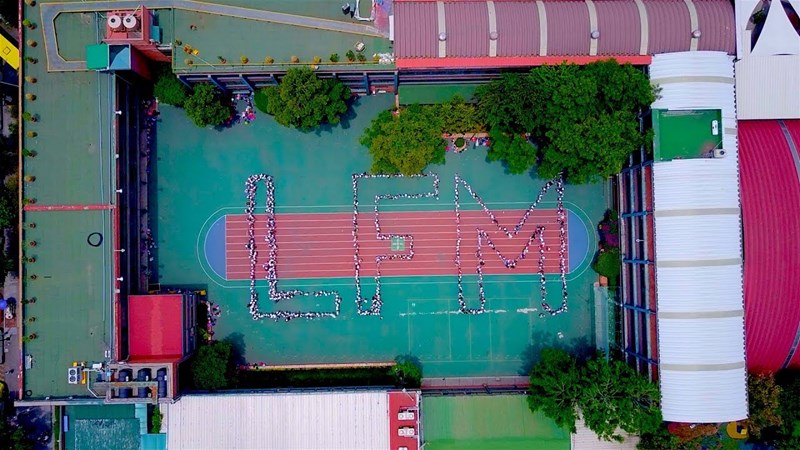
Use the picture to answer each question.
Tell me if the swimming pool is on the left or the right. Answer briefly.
left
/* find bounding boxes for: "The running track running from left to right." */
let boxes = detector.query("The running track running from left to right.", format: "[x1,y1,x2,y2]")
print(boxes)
[197,201,598,288]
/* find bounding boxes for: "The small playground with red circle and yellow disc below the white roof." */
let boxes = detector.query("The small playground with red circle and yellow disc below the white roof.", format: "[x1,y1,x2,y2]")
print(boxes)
[656,414,770,450]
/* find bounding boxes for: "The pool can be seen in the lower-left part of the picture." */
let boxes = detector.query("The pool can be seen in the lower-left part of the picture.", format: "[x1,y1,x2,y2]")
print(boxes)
[69,402,147,450]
